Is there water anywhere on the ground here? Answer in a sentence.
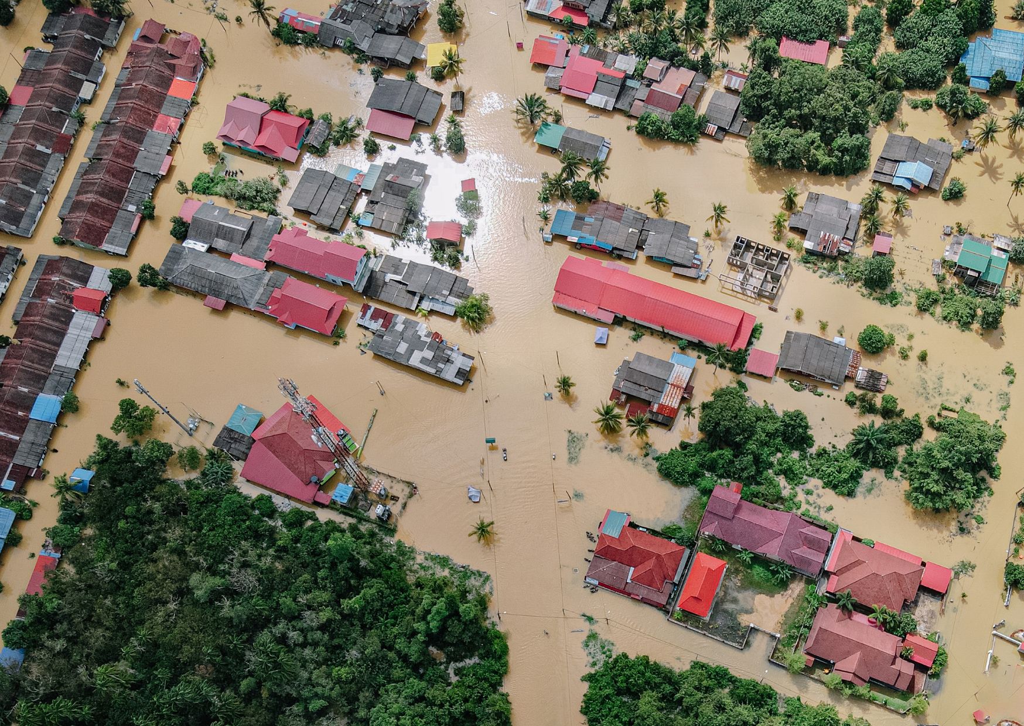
Yes, water shows up in the scene.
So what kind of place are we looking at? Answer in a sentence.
It's a residential area.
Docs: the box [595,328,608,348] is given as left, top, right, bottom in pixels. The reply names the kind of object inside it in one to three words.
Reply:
gazebo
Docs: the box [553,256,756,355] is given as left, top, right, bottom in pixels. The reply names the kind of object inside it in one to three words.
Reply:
building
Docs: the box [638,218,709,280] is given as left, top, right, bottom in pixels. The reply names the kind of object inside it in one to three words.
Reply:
house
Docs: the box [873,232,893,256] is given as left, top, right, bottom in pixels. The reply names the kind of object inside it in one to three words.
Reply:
shed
